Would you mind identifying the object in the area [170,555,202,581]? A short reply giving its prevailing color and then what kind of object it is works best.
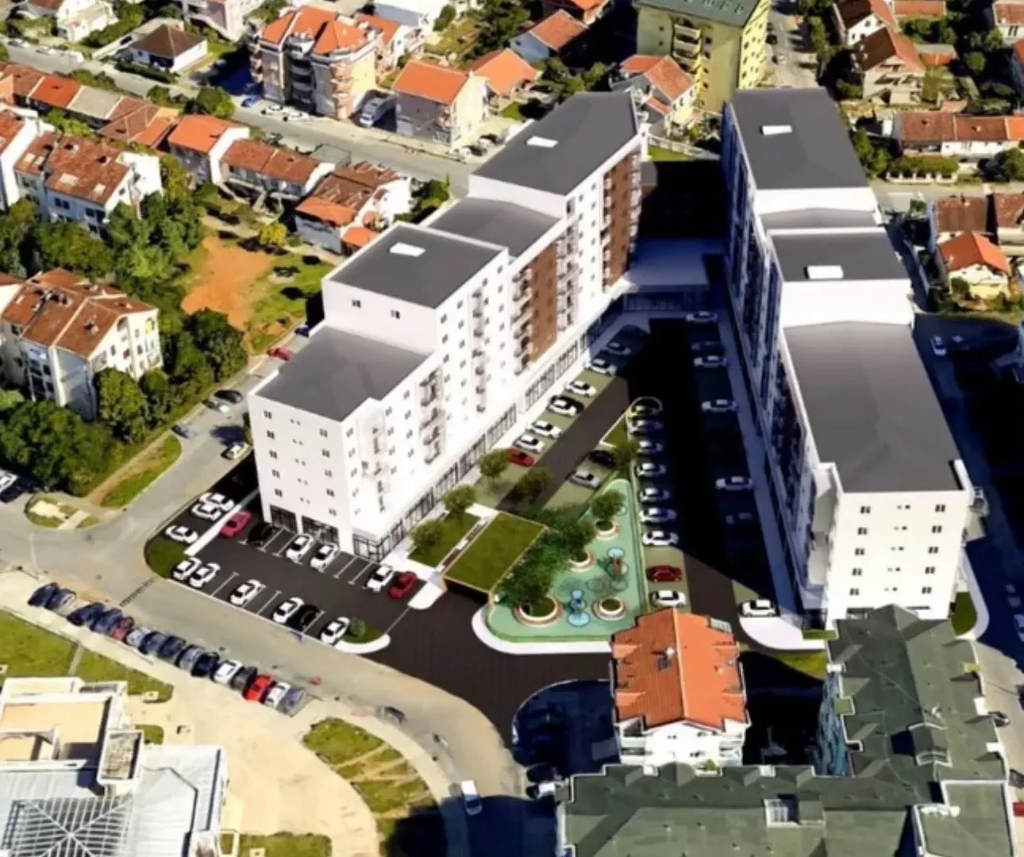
white car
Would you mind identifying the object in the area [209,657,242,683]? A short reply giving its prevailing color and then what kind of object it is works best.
white car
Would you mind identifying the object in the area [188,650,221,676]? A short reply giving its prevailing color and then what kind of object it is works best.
black car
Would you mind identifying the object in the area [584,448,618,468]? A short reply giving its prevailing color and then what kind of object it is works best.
black car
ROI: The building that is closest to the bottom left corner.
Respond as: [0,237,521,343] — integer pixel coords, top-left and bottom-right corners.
[0,680,229,857]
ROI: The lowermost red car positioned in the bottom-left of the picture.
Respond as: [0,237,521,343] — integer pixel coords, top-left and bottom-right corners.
[241,674,274,700]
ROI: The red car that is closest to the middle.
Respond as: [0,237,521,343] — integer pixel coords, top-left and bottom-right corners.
[504,448,537,467]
